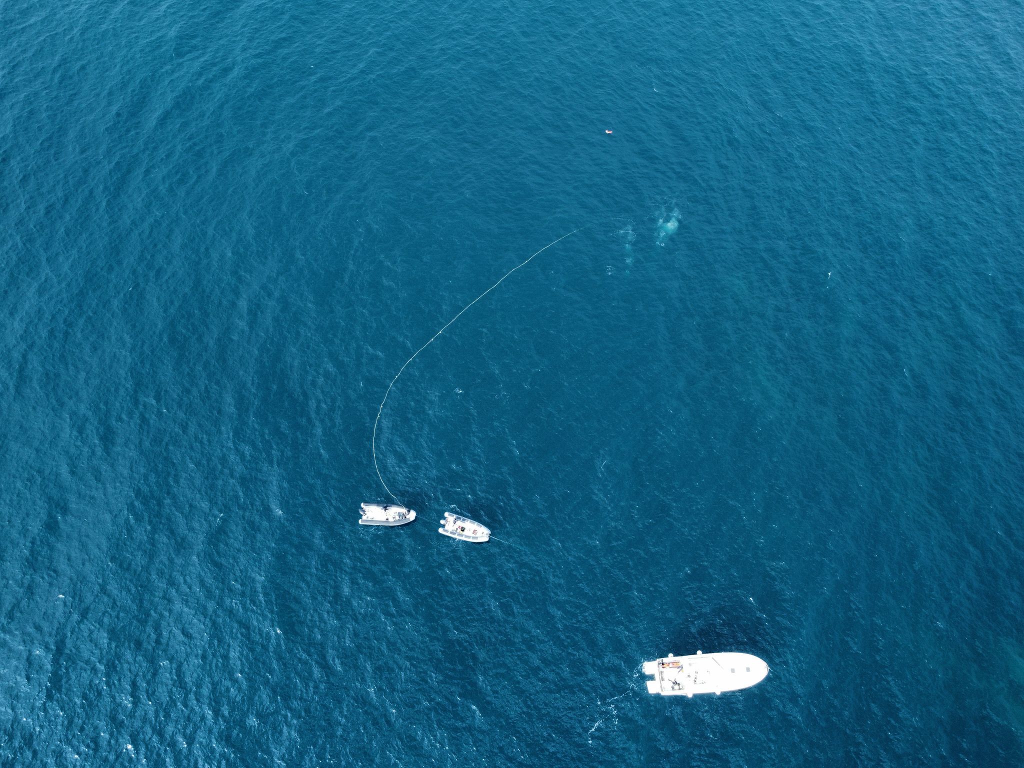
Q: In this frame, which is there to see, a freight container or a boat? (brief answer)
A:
boat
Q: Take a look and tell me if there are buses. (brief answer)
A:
No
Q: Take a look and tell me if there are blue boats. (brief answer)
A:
No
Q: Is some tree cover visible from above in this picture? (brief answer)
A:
No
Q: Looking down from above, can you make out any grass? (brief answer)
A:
No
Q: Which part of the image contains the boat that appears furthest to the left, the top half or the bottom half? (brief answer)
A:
bottom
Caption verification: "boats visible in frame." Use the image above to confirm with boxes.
[642,651,772,697]
[360,503,417,526]
[441,513,491,542]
